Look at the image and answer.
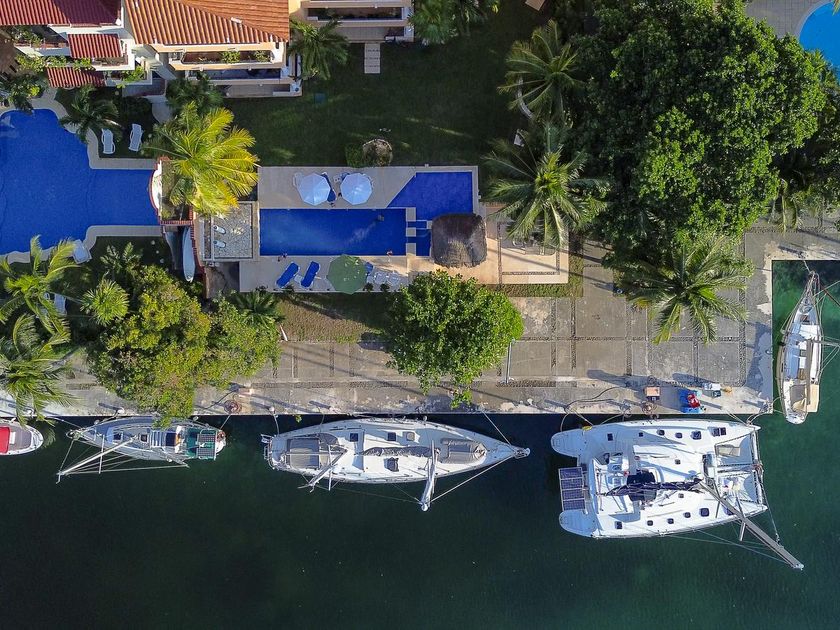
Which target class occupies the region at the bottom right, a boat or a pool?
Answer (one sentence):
Visible at the bottom right is a boat.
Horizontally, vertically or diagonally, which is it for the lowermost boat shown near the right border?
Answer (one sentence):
In this picture, the lowermost boat shown near the right border is oriented horizontally.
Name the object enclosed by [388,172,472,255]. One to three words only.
swimming pool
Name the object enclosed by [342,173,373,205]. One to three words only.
umbrella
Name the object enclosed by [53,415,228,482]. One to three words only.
boat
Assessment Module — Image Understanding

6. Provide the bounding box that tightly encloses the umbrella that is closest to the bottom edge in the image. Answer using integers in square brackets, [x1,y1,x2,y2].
[327,254,368,294]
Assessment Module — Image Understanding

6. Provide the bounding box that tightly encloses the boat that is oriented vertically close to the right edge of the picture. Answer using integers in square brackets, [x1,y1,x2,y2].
[774,272,840,426]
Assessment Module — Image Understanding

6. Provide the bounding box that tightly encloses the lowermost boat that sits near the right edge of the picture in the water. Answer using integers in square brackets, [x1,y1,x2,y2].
[550,415,812,573]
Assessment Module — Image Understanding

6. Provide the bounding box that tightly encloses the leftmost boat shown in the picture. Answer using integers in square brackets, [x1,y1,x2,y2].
[0,416,44,455]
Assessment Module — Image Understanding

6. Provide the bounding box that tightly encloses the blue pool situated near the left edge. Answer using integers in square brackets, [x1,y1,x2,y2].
[0,99,159,263]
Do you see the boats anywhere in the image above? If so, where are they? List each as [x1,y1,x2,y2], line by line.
[262,415,531,513]
[774,272,840,426]
[0,416,44,455]
[550,415,812,573]
[53,415,228,482]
